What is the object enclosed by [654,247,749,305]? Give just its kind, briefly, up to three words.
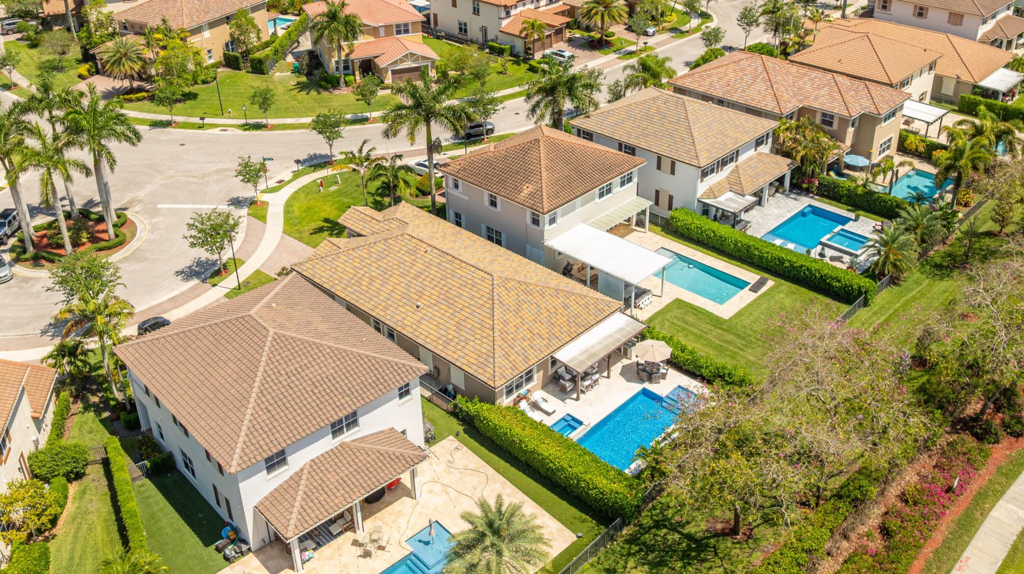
swimming pool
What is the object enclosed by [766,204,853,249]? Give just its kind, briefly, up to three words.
swimming pool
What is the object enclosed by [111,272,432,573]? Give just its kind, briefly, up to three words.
house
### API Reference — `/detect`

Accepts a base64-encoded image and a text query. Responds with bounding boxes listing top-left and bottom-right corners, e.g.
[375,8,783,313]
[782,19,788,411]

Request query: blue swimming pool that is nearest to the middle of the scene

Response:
[552,413,584,435]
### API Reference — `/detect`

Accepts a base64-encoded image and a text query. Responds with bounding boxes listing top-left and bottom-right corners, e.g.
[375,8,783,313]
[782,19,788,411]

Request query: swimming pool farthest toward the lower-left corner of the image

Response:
[383,521,478,574]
